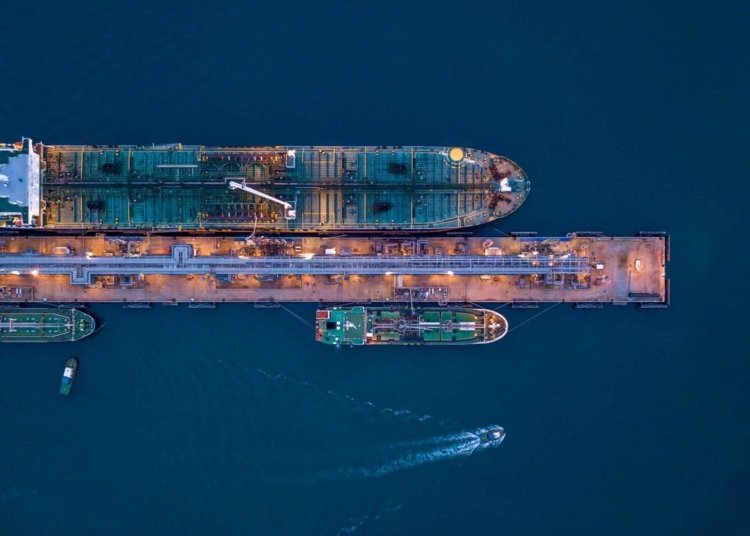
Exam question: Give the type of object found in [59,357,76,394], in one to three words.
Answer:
boat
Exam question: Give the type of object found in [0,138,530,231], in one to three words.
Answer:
ship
